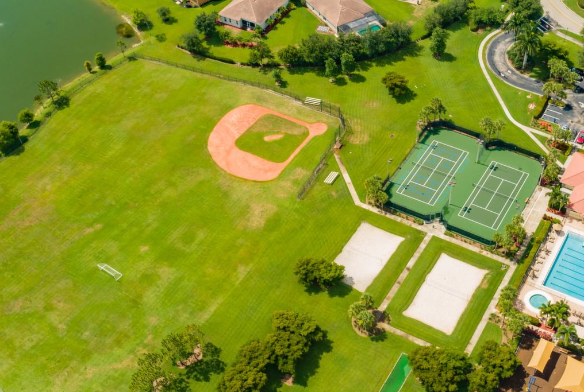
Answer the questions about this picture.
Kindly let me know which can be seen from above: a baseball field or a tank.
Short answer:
baseball field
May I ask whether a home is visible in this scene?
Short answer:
Yes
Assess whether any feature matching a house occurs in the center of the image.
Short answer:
No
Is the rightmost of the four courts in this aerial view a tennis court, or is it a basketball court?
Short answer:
tennis court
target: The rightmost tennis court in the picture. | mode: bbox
[458,162,529,230]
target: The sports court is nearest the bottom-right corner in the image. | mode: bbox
[403,253,489,335]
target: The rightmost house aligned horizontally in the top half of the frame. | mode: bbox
[305,0,391,43]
